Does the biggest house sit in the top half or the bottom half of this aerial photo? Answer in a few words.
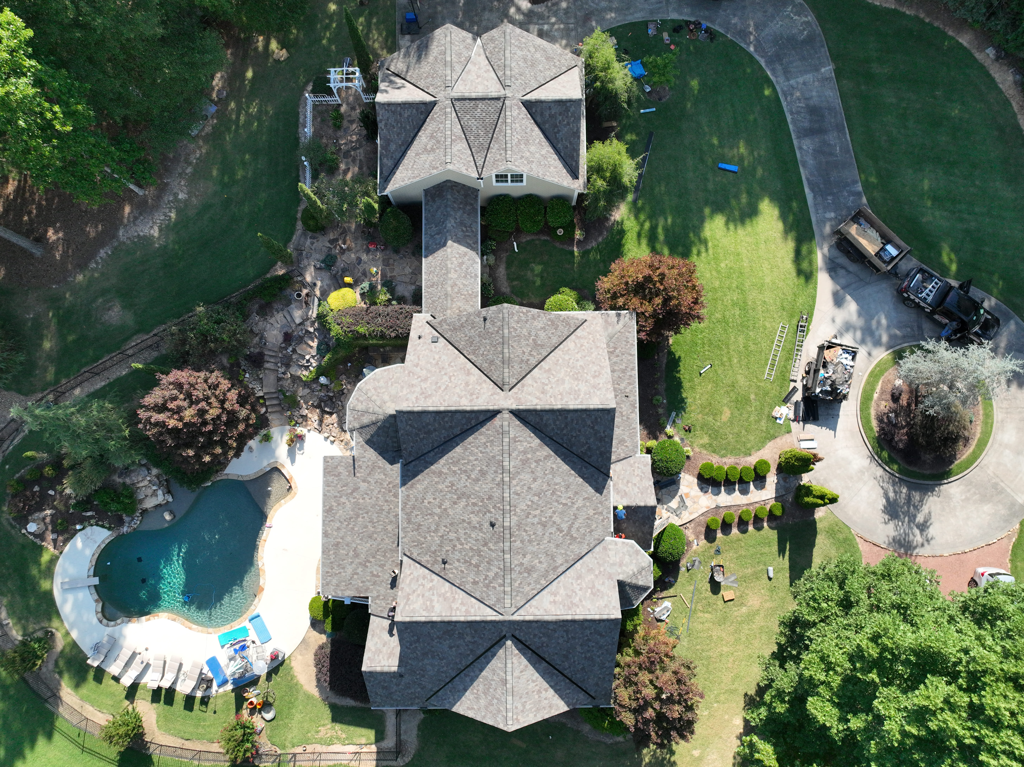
bottom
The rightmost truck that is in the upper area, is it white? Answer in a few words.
No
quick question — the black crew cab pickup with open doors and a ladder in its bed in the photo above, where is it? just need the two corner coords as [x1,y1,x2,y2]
[894,263,999,344]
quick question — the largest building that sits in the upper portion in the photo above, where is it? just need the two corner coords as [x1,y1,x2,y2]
[373,23,586,204]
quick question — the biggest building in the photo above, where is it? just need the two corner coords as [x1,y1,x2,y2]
[321,300,657,736]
